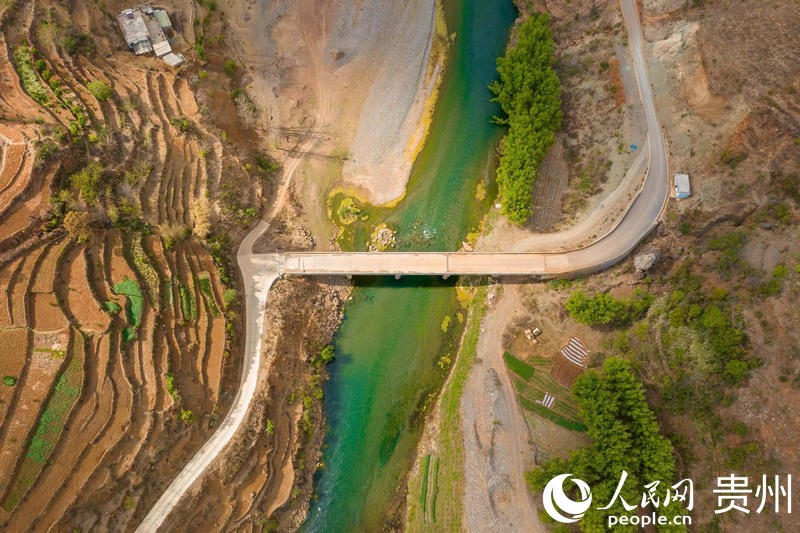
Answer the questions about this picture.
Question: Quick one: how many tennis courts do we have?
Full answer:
There are no tennis courts in this view.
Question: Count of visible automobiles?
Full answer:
The photo contains no automobiles.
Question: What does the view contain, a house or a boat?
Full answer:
Looking from above, you can make out a house.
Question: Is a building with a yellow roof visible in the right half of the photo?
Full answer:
No, the scene shows no building with a yellow roof in the right half of the photo.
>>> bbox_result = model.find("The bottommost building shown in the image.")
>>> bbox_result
[672,173,689,199]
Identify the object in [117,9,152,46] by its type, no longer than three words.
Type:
house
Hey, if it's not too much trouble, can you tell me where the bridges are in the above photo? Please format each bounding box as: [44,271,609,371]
[284,252,546,279]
